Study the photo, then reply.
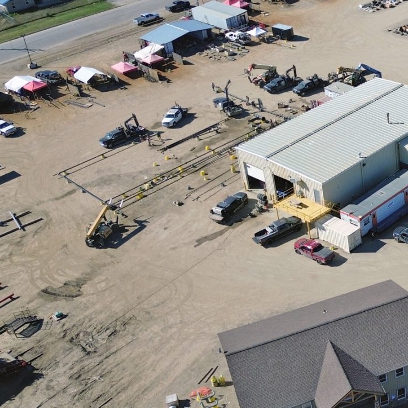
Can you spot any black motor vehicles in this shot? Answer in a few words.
Yes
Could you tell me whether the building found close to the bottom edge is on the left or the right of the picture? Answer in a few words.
right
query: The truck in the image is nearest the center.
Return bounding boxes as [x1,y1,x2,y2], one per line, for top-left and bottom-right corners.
[206,194,252,220]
